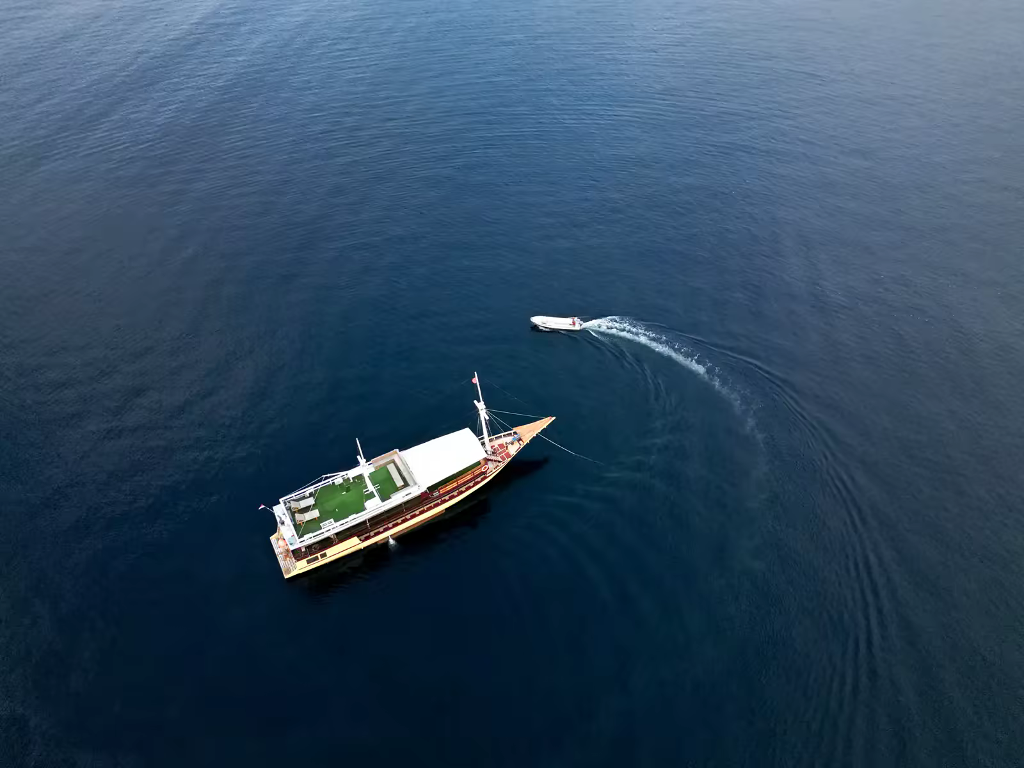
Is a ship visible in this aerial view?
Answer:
Yes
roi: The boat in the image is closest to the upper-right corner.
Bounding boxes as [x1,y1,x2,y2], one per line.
[531,315,586,330]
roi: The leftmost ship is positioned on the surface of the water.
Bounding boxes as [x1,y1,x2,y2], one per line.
[269,372,556,579]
